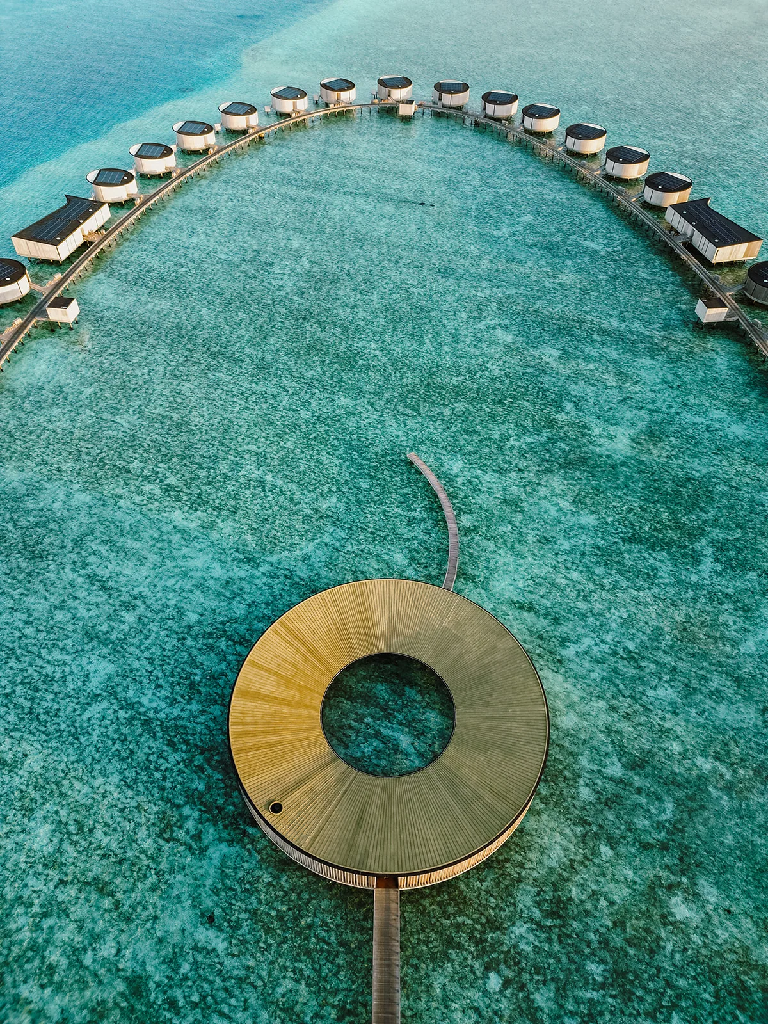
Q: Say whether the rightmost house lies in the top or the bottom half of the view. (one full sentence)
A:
The rightmost house sits in the top half of the picture.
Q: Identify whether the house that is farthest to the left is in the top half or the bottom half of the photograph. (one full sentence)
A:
Seen from above, the house that is farthest to the left lies in the top half of the view.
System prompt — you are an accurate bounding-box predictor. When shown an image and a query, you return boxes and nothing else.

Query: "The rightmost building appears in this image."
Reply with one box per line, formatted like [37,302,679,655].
[740,258,768,318]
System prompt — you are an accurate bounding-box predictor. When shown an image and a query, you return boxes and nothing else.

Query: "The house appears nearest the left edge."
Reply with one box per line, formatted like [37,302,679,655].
[0,259,34,316]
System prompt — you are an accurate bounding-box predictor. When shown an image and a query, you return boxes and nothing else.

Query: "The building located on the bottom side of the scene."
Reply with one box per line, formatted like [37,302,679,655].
[228,579,549,889]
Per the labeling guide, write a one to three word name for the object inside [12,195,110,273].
house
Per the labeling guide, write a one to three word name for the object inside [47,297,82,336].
shed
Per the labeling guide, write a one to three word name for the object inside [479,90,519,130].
house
